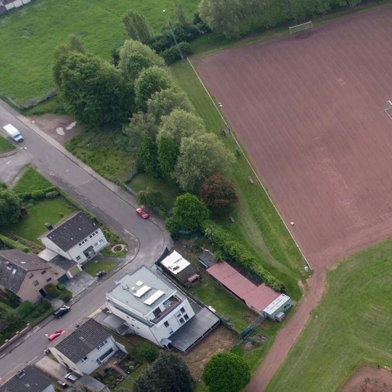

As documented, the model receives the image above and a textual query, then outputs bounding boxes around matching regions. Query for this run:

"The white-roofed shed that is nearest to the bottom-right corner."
[262,294,292,322]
